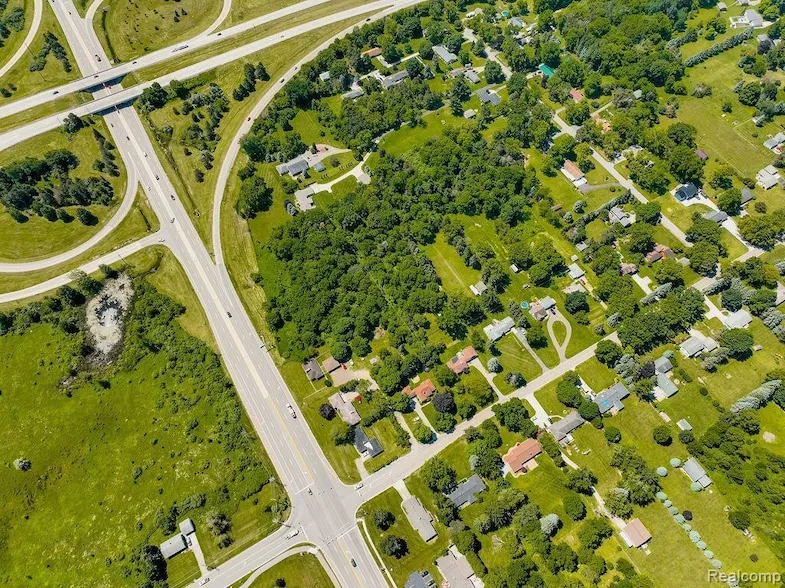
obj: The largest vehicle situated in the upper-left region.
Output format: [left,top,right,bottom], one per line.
[170,41,191,53]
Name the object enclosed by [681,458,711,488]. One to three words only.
barn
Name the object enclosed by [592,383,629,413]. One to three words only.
house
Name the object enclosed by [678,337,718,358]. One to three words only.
house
